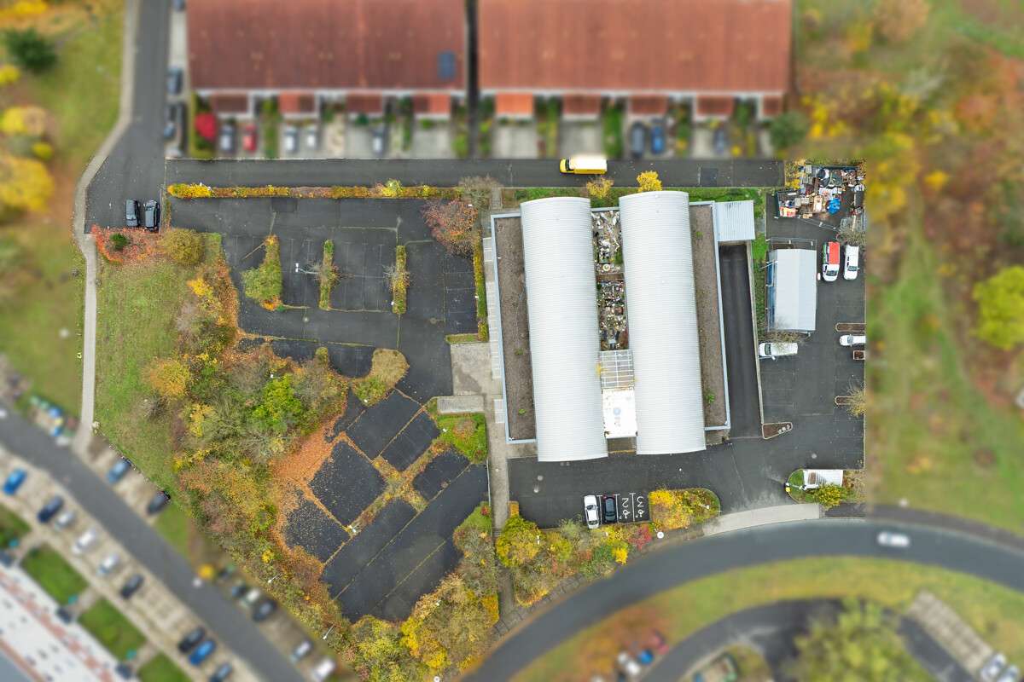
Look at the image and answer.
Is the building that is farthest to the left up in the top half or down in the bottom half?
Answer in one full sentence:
You can find the building that is farthest to the left in the bottom half.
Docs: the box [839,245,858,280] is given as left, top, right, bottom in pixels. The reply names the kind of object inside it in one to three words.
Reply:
vehicle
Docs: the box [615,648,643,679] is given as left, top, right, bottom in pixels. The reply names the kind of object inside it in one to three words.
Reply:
car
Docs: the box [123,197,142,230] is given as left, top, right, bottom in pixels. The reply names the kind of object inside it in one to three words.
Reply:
car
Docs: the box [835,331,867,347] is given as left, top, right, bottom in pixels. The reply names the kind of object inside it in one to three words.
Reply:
vehicle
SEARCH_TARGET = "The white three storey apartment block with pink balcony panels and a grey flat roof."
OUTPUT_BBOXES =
[0,556,138,682]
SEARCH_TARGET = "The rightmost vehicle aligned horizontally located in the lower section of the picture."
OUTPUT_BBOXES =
[876,531,910,547]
